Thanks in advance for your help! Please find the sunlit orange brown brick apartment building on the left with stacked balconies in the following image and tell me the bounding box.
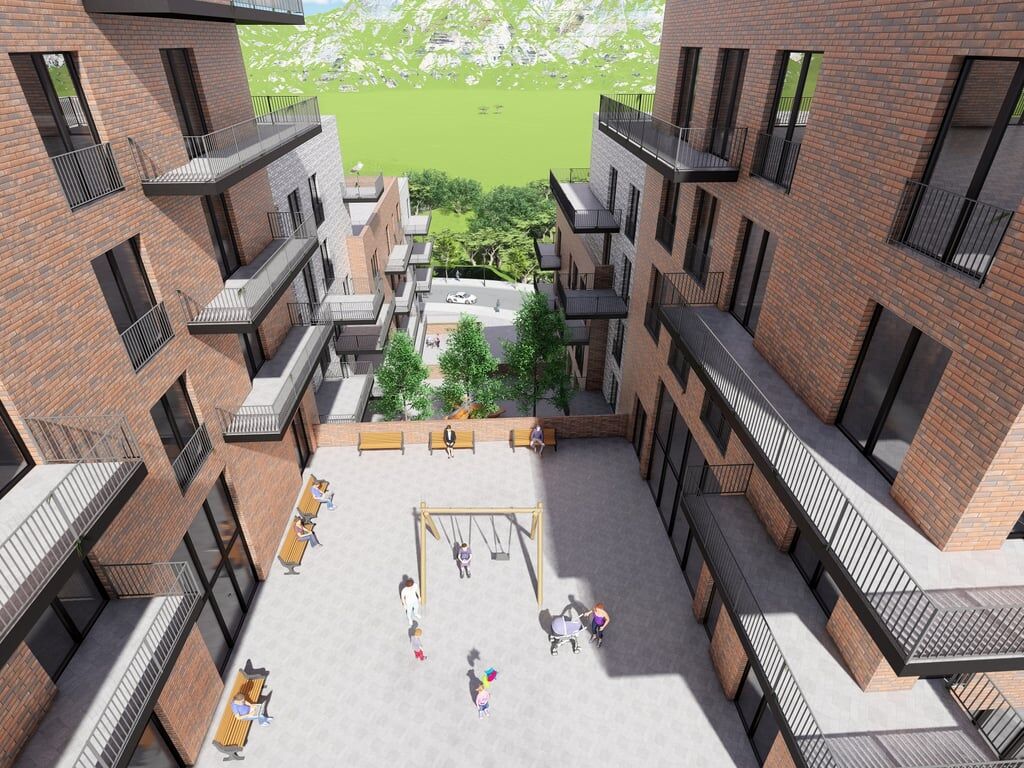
[0,0,337,768]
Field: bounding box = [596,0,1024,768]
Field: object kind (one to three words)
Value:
building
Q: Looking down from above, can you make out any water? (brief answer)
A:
No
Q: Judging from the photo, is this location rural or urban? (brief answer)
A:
urban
